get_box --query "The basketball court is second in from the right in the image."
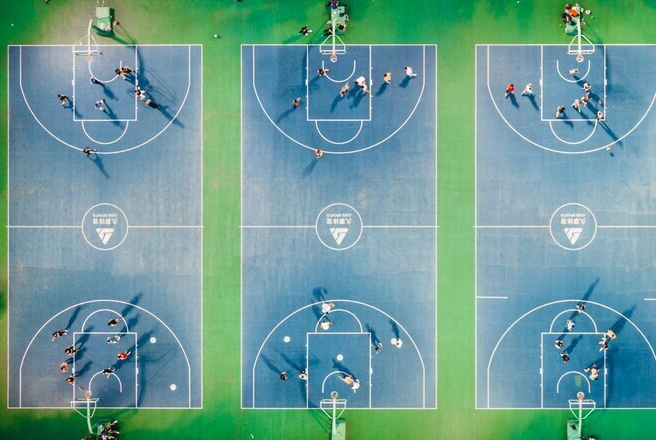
[241,45,437,409]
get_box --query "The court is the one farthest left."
[7,45,203,409]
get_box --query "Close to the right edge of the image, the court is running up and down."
[476,45,656,409]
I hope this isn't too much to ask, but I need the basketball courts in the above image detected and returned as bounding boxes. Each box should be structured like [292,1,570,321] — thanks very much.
[7,45,203,409]
[241,45,437,409]
[476,45,656,409]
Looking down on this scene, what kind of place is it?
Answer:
sports ground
